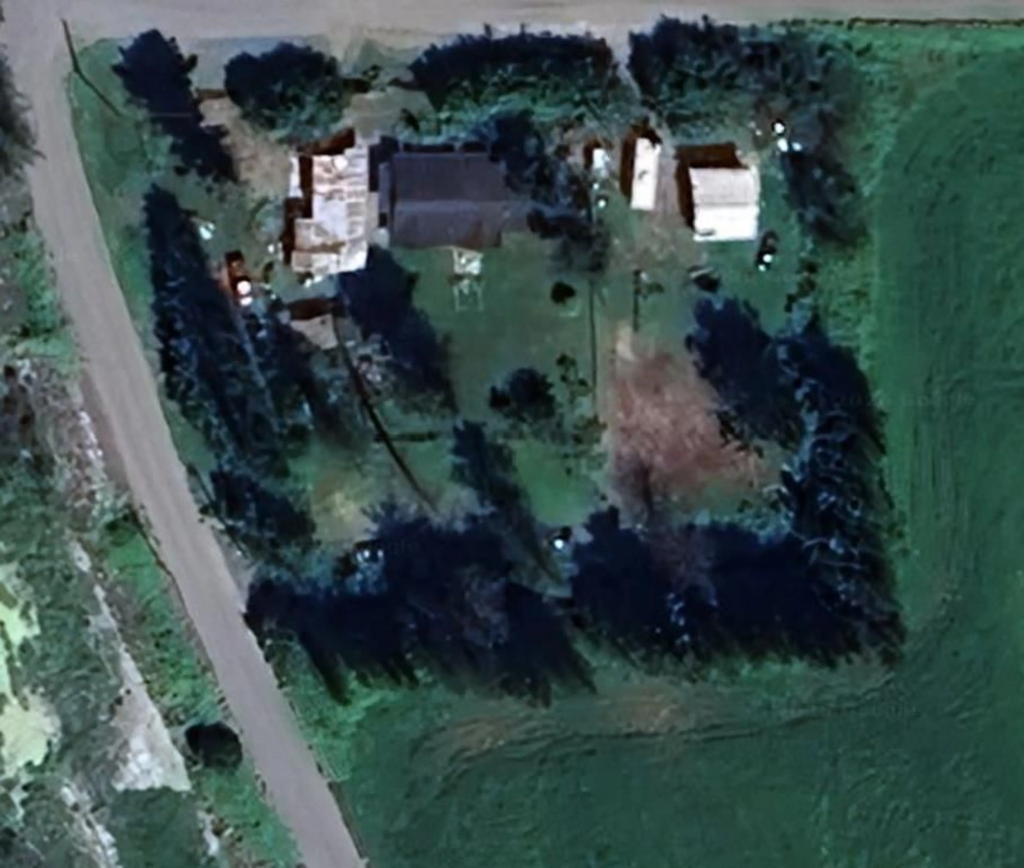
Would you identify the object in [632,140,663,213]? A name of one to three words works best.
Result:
building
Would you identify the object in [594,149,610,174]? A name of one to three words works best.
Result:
shed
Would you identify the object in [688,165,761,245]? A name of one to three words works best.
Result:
barn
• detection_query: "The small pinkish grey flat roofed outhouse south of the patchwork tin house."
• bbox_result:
[293,315,343,354]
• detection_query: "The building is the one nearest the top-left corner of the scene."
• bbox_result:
[289,148,379,274]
